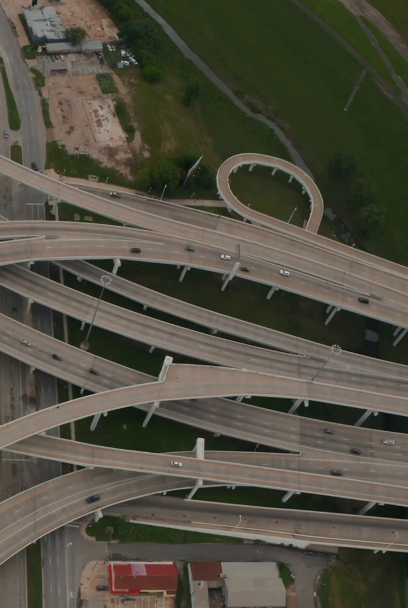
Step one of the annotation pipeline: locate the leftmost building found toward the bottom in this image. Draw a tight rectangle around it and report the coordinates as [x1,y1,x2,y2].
[105,561,178,597]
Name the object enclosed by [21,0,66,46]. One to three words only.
building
